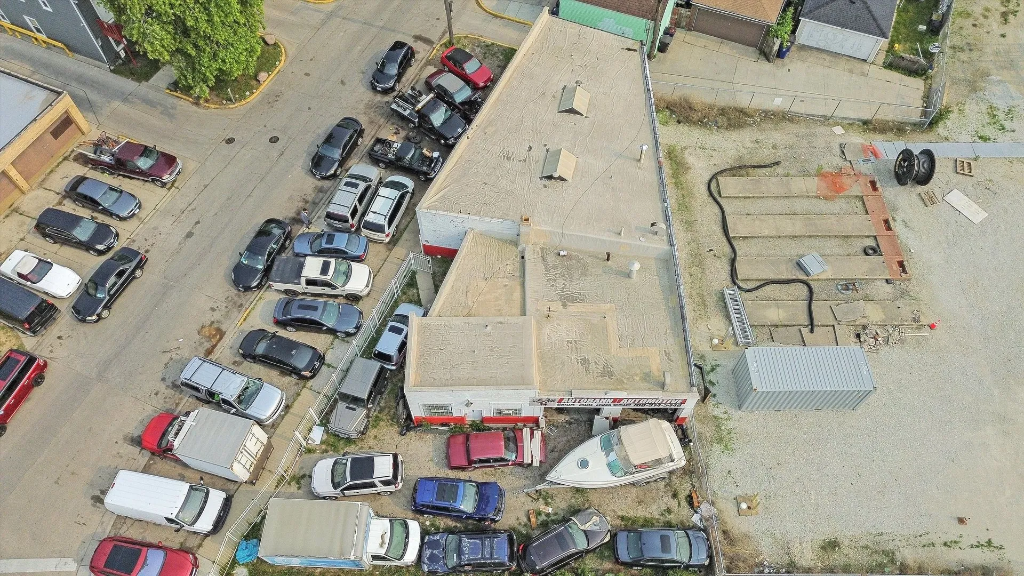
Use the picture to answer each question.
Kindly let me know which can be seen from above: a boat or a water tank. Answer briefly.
boat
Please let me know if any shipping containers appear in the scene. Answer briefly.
Yes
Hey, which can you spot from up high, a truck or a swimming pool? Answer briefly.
truck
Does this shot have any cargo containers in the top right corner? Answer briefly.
No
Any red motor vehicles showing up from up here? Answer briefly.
Yes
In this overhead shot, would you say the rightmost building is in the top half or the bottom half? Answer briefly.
top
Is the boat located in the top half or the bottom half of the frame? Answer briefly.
bottom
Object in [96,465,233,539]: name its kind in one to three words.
van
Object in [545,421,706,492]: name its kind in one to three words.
boat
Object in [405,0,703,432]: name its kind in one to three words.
building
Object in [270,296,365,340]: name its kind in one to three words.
car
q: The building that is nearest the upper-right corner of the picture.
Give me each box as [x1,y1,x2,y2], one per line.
[796,0,897,63]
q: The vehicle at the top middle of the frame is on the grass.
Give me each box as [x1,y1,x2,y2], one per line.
[440,47,494,92]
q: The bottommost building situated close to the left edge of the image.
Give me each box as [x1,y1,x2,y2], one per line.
[0,68,90,211]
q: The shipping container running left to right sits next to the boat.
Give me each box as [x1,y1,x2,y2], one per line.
[732,347,876,412]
